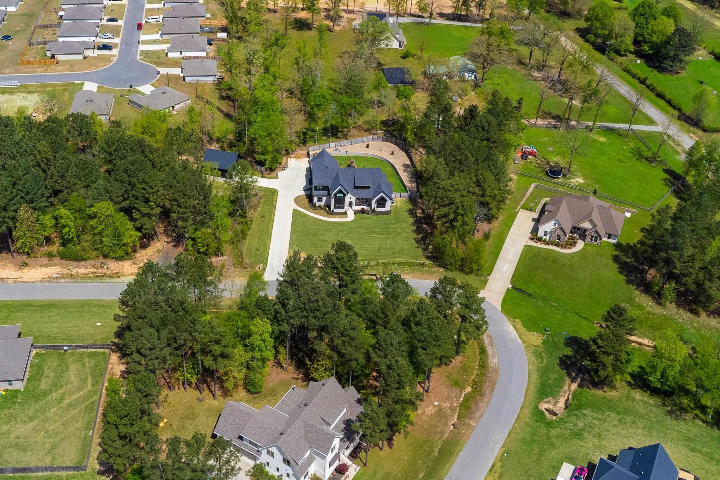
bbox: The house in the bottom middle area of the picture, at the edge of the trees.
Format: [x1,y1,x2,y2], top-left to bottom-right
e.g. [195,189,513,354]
[211,374,374,480]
